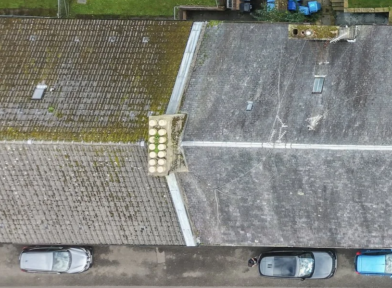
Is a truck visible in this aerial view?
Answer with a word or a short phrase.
No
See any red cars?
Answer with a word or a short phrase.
No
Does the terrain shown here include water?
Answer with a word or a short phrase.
No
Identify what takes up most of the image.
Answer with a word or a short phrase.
buildings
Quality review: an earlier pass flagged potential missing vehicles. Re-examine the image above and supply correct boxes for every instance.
[259,248,337,286]
[19,246,96,279]
[356,249,392,281]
